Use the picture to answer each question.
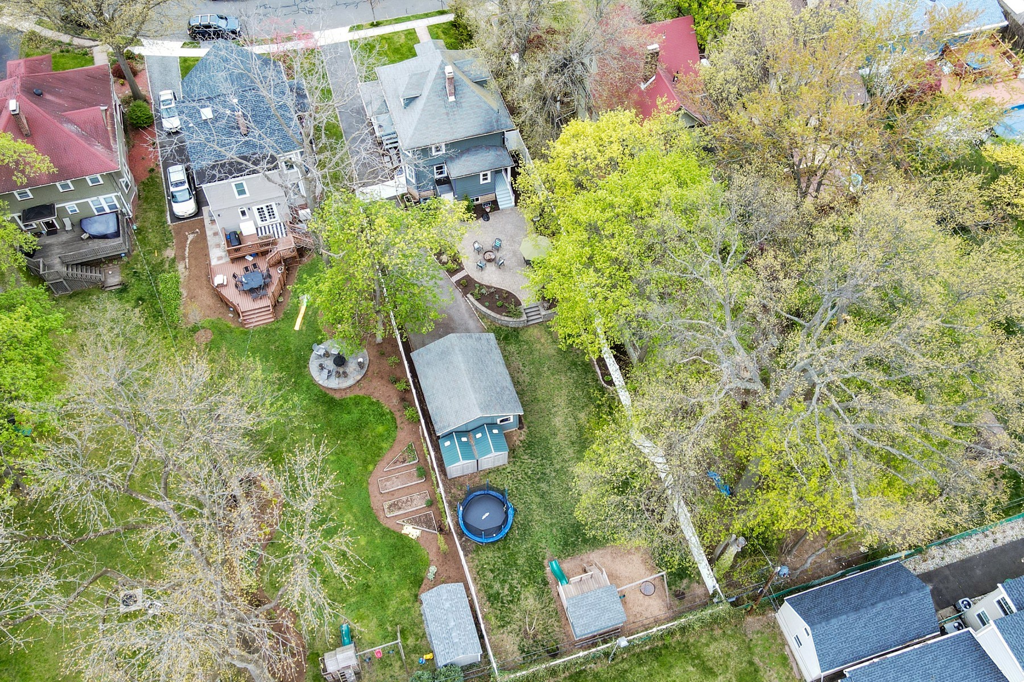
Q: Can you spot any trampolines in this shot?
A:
Yes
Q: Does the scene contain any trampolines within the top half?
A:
No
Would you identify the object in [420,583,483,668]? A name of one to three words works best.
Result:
shed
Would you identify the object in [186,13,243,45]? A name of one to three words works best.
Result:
car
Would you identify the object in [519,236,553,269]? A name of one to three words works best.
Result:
umbrella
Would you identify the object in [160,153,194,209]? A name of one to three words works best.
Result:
car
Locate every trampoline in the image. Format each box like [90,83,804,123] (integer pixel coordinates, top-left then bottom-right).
[457,481,515,554]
